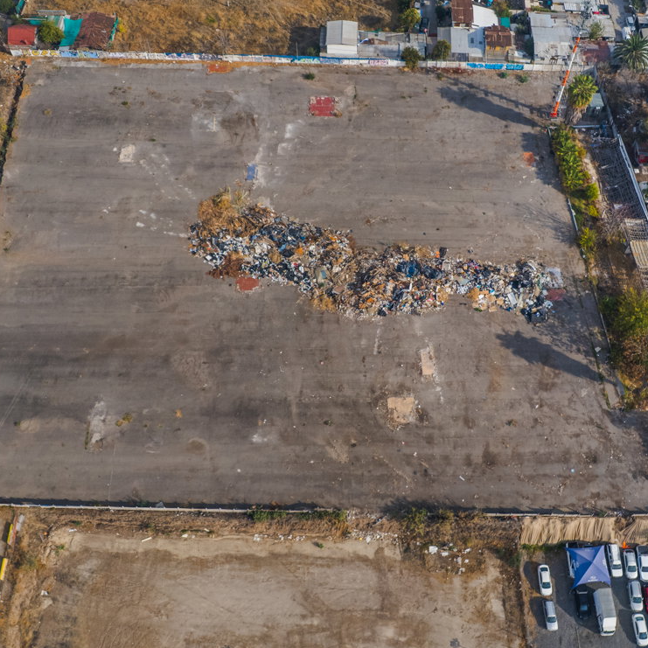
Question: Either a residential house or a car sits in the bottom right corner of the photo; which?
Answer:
car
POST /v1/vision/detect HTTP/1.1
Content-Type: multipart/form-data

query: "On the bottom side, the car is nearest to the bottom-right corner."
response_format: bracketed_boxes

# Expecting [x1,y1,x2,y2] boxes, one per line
[631,613,648,646]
